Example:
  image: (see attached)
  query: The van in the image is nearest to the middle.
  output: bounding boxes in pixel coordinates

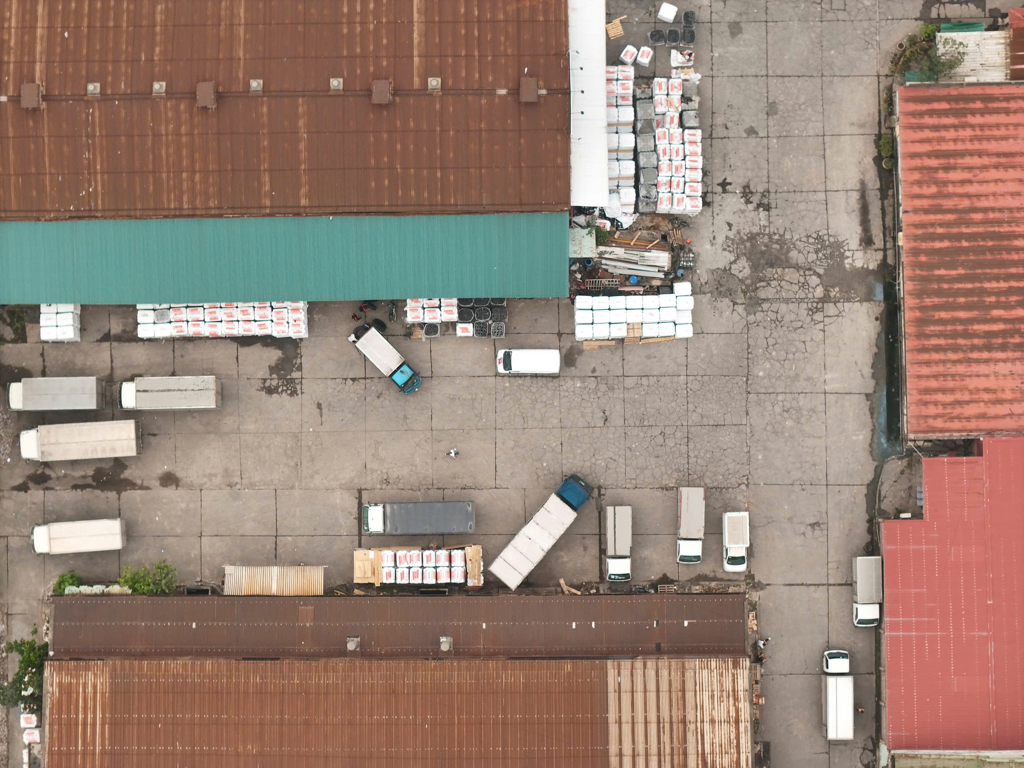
[496,346,560,376]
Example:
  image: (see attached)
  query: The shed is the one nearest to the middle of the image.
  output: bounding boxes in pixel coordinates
[569,228,596,261]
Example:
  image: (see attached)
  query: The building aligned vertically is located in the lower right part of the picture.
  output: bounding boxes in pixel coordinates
[880,435,1024,750]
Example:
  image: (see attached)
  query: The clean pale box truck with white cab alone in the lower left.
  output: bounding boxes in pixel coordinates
[28,518,130,558]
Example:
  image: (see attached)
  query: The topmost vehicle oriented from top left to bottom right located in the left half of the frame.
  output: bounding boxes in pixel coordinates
[355,327,426,398]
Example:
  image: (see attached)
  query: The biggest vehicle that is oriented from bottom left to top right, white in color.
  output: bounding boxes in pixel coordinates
[489,468,600,590]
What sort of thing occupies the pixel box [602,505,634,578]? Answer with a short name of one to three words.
truck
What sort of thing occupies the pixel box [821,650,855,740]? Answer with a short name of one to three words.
truck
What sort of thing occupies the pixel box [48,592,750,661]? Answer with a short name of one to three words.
building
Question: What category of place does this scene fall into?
industrial area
